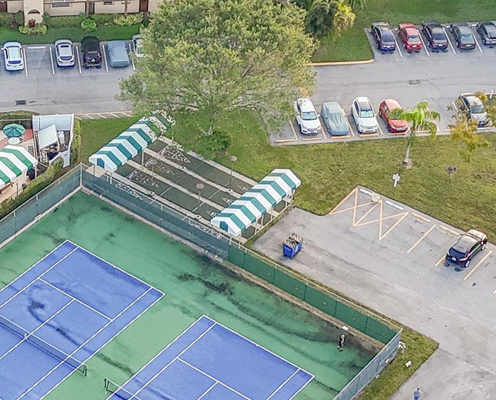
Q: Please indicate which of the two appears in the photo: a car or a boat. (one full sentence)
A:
I can see a car in this picture.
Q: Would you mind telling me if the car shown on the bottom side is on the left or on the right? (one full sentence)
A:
You can find the car shown on the bottom side on the right side of the picture.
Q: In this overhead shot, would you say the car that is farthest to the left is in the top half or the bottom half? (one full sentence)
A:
The car that is farthest to the left sits in the top half of the picture.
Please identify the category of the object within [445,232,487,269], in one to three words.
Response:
car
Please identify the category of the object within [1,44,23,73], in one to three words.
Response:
car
